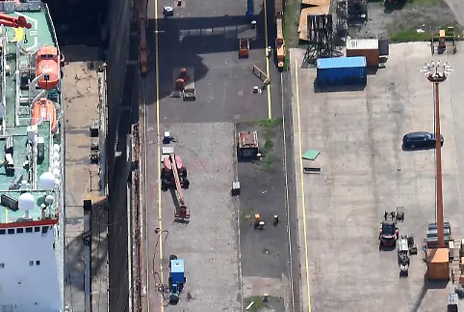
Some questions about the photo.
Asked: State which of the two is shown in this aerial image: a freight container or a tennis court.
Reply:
freight container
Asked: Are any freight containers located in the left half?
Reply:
No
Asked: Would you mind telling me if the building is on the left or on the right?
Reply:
right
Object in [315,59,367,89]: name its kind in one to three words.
shipping container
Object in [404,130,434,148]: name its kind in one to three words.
car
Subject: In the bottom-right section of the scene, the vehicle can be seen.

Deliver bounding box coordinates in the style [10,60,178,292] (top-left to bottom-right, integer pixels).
[379,210,397,245]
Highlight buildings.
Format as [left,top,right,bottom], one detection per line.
[426,248,450,279]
